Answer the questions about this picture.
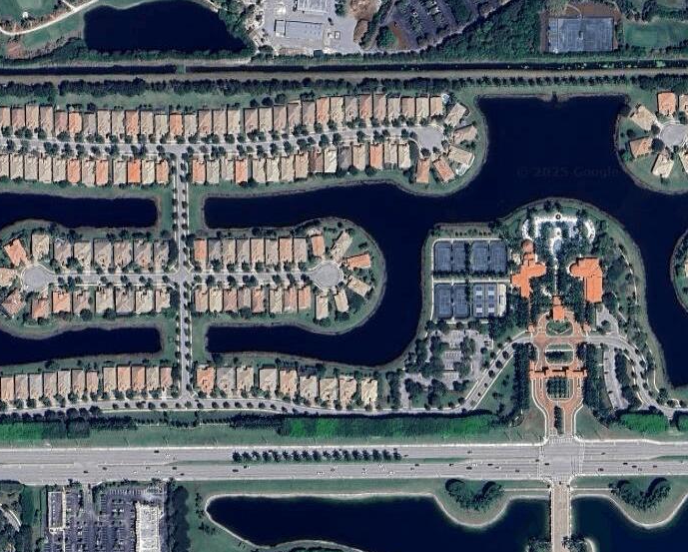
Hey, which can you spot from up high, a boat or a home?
home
